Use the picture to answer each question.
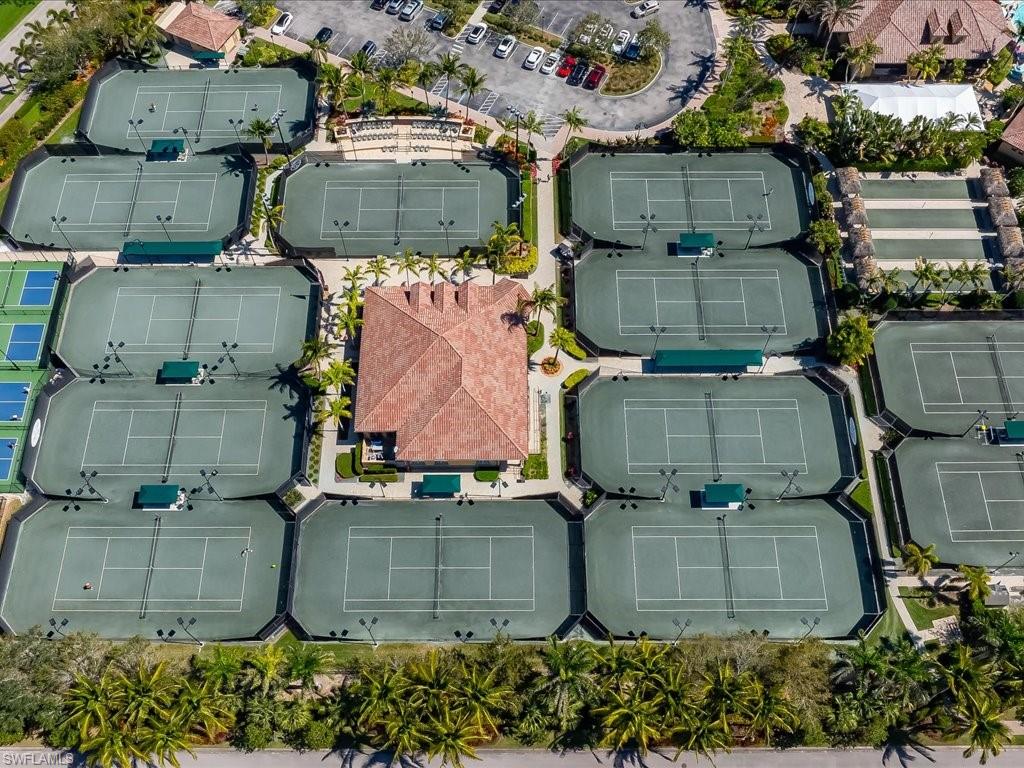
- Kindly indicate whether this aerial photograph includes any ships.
No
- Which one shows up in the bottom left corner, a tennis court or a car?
tennis court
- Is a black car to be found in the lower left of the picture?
No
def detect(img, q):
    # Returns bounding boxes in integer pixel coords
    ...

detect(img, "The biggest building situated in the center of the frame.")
[354,275,528,464]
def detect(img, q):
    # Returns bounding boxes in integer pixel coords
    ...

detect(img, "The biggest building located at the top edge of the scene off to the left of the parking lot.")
[156,1,239,55]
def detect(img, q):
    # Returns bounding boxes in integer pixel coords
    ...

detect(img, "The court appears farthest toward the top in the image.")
[86,68,322,156]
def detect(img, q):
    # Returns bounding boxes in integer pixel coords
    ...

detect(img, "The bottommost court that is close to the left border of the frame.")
[0,500,301,641]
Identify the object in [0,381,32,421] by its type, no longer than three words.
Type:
sports court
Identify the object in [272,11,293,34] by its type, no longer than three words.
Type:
car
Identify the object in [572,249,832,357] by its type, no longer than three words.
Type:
tennis court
